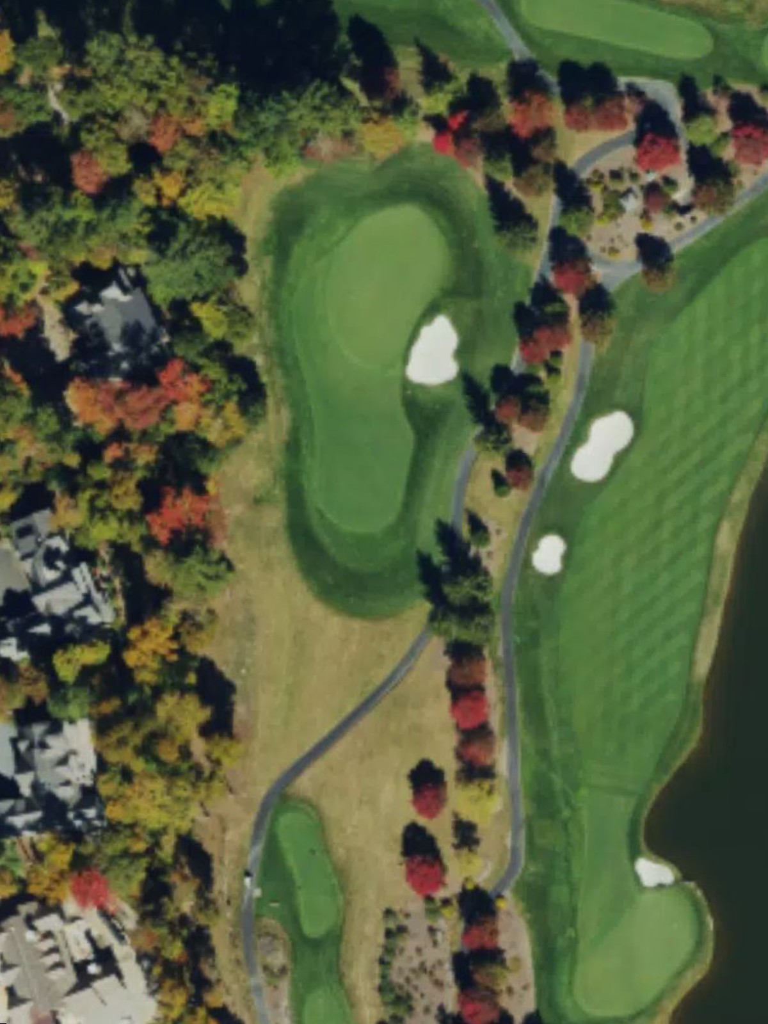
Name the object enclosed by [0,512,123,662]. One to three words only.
house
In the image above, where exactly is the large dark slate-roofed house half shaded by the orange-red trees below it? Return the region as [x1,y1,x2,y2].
[75,275,177,374]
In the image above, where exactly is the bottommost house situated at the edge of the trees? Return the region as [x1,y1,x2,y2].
[0,900,147,1024]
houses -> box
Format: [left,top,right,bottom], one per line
[0,512,123,662]
[0,716,107,835]
[75,275,177,374]
[0,900,147,1024]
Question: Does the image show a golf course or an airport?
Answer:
golf course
